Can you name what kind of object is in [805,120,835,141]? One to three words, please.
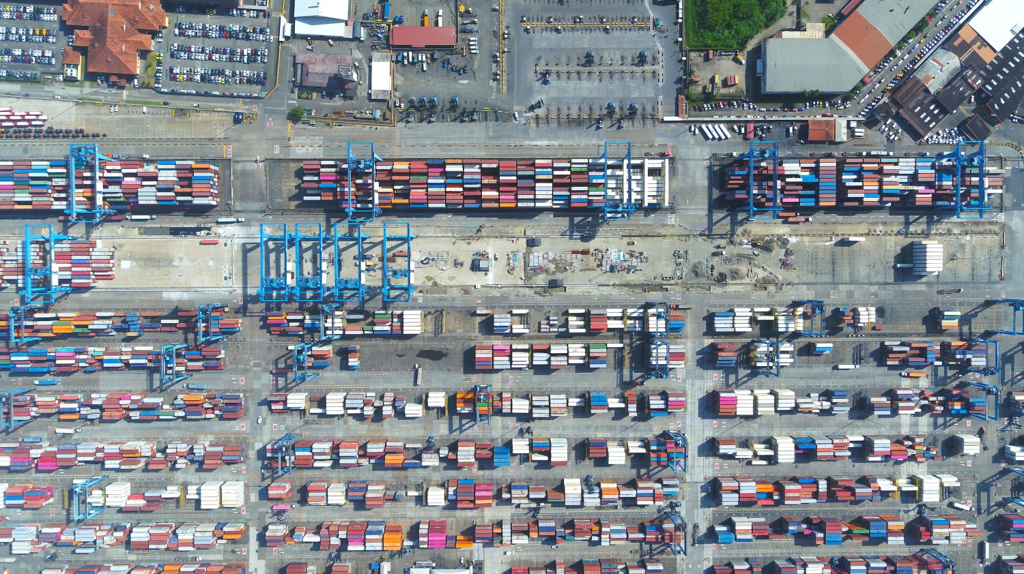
house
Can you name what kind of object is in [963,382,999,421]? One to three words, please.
crane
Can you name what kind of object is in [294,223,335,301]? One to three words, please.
container crane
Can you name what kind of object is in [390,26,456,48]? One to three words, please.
building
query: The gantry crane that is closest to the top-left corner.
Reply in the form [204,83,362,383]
[70,141,121,222]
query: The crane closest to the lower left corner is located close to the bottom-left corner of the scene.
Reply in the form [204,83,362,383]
[74,473,107,520]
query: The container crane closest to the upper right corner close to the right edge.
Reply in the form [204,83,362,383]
[932,140,989,218]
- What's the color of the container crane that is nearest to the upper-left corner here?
blue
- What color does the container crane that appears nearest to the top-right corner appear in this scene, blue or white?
blue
